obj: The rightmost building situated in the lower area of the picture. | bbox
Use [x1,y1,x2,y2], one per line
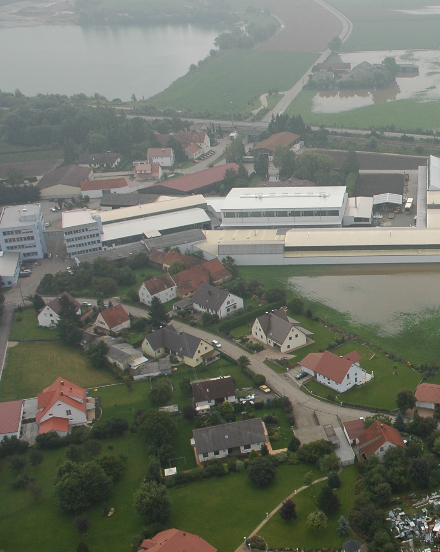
[415,386,440,410]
